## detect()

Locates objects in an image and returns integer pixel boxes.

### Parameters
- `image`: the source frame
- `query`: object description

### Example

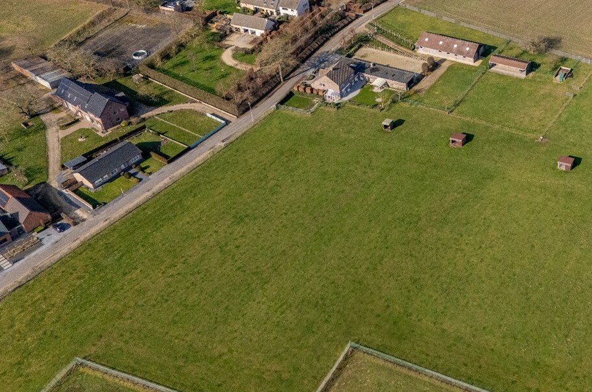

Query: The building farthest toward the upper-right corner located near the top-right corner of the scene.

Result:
[486,53,533,79]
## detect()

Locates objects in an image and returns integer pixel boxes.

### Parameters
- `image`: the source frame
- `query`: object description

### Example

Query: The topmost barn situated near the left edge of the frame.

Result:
[9,50,71,90]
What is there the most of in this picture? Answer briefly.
grass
